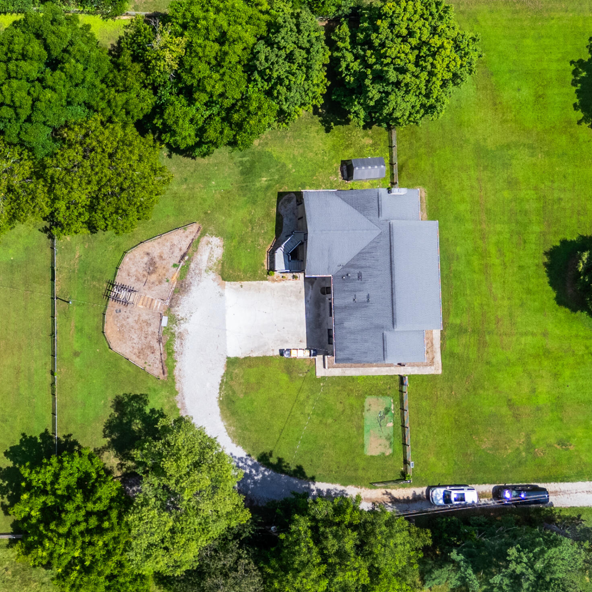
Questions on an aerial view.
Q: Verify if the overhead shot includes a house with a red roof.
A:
No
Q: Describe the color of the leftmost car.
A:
white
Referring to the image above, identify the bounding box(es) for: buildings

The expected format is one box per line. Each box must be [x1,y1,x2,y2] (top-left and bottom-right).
[346,157,388,180]
[295,183,440,364]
